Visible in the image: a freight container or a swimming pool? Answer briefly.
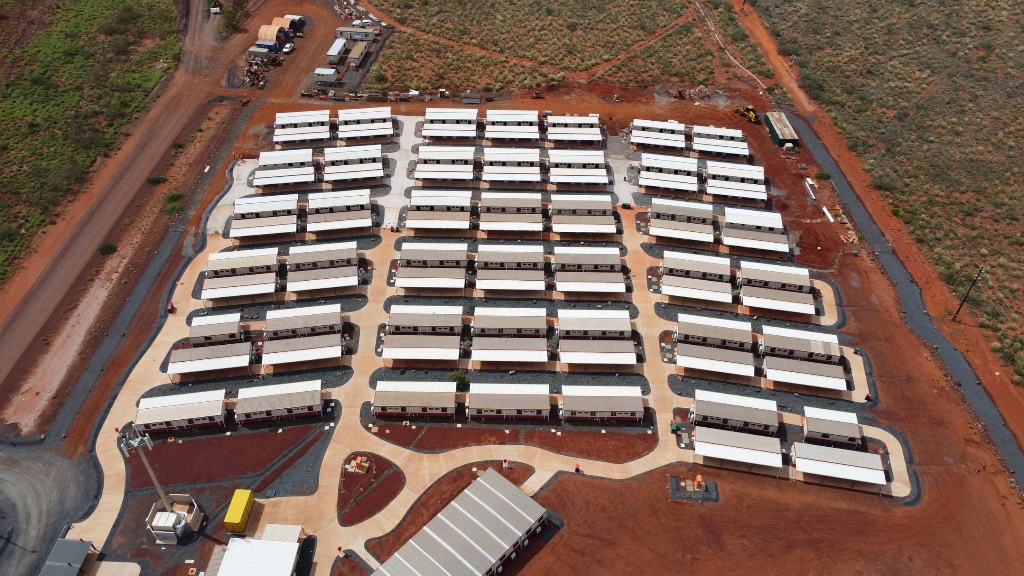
freight container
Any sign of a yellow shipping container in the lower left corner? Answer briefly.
Yes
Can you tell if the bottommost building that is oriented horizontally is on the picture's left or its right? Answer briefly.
left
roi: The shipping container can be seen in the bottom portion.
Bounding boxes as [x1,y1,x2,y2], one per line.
[224,489,257,534]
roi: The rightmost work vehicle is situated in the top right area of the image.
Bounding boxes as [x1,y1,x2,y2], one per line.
[729,105,761,122]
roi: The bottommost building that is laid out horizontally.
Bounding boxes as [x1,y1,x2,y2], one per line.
[212,538,301,576]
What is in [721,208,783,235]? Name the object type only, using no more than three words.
building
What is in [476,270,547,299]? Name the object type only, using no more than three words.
building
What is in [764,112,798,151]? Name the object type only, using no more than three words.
shed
